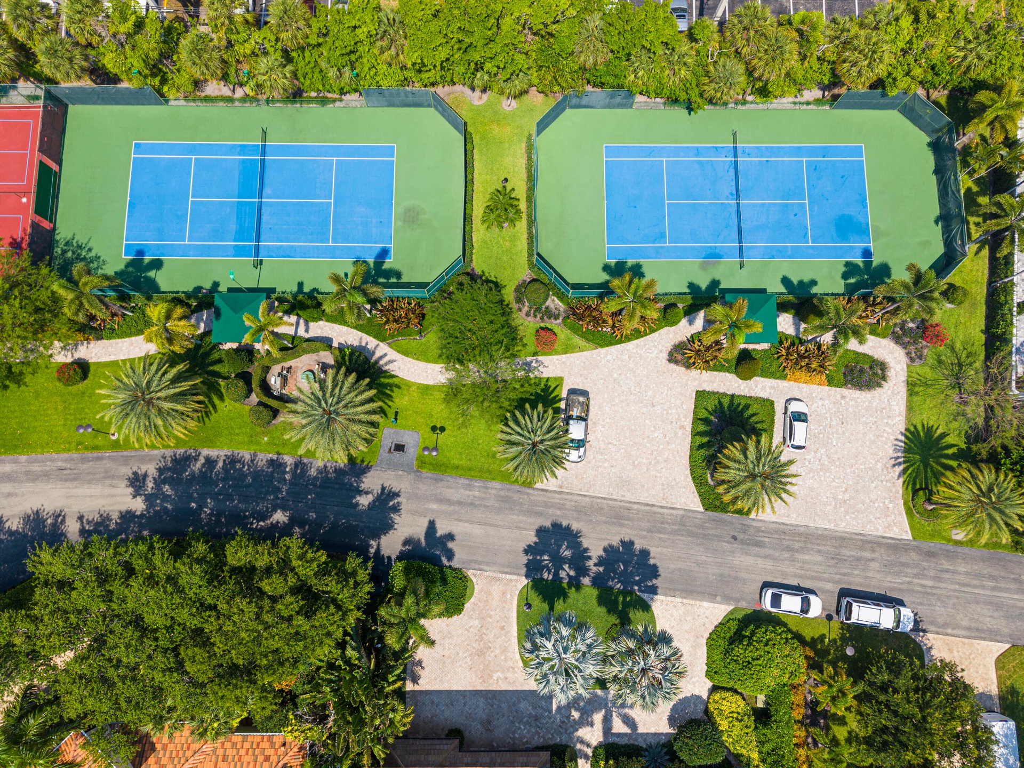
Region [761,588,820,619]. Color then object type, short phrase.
white car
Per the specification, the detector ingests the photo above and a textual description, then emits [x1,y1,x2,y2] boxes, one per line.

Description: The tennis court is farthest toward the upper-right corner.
[535,108,945,300]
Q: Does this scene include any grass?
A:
Yes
